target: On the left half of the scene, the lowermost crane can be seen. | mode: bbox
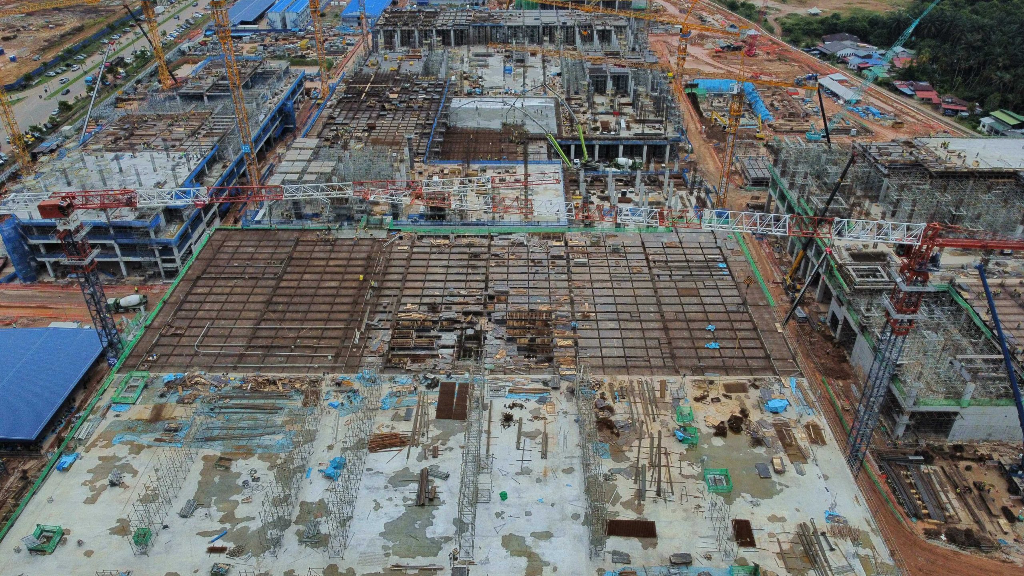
[0,168,561,370]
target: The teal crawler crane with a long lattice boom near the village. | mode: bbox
[802,0,937,144]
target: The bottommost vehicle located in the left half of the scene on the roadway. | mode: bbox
[102,291,150,312]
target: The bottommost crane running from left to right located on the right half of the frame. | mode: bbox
[362,180,1024,482]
